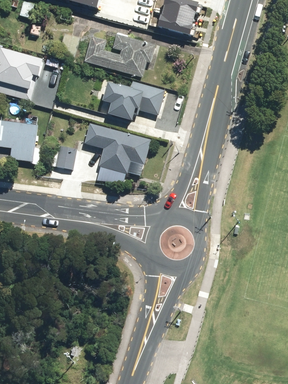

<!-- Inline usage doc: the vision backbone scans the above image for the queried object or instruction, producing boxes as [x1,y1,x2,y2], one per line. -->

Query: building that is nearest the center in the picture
[84,124,150,184]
